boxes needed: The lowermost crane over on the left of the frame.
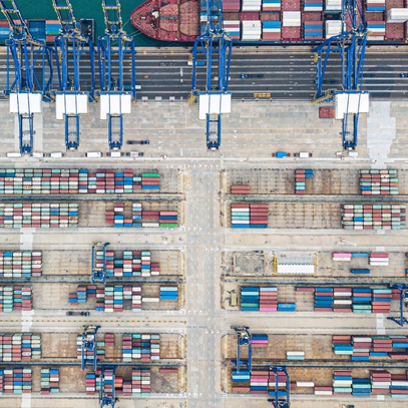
[98,357,118,406]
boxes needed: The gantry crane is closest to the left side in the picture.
[0,0,56,157]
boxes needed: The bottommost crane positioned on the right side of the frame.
[265,359,290,408]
